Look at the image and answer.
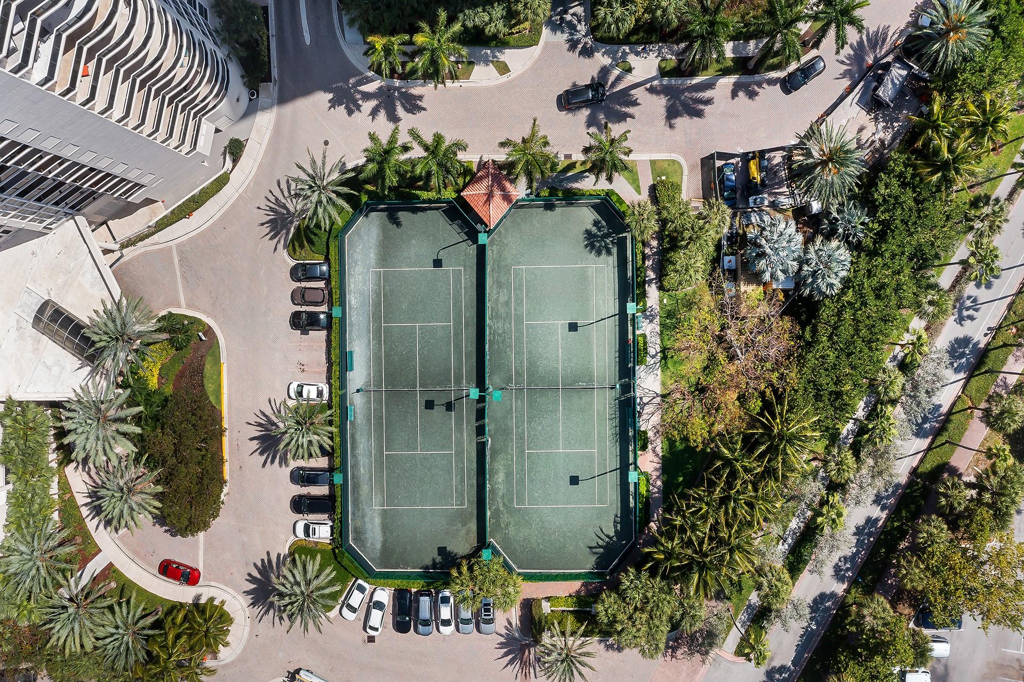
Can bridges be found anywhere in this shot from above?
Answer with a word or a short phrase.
No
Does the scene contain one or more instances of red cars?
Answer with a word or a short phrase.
Yes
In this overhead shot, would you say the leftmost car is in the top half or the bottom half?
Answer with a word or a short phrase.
bottom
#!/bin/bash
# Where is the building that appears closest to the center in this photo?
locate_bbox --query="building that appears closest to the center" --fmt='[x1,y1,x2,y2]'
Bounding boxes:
[460,159,520,228]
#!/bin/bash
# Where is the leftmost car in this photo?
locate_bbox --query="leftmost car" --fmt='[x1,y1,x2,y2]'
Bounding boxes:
[153,559,200,588]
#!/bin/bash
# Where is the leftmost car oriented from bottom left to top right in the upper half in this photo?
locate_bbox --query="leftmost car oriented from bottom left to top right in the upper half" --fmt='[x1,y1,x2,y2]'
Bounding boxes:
[784,51,831,90]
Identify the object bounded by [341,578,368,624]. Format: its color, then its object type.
white car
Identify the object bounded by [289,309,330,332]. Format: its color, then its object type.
black car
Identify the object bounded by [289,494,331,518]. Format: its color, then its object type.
black car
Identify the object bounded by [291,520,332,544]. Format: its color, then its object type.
white car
